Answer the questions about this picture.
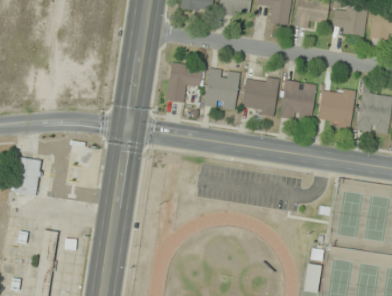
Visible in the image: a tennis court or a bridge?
tennis court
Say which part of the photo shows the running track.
bottom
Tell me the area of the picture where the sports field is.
bottom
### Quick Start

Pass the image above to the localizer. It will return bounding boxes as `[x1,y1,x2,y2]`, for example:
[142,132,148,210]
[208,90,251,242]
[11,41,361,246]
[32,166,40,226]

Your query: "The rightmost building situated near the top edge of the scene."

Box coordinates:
[370,14,392,44]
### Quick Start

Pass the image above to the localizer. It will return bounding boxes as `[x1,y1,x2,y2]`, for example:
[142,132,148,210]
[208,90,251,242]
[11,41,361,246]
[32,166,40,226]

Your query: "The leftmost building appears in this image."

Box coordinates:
[16,157,42,196]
